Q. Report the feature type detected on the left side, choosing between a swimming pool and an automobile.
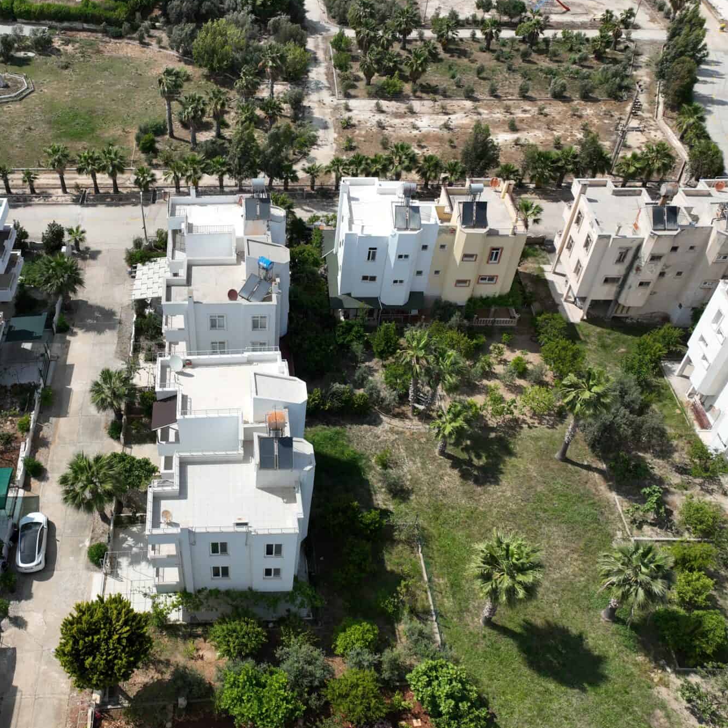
automobile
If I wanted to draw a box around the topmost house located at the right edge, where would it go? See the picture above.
[533,179,728,332]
